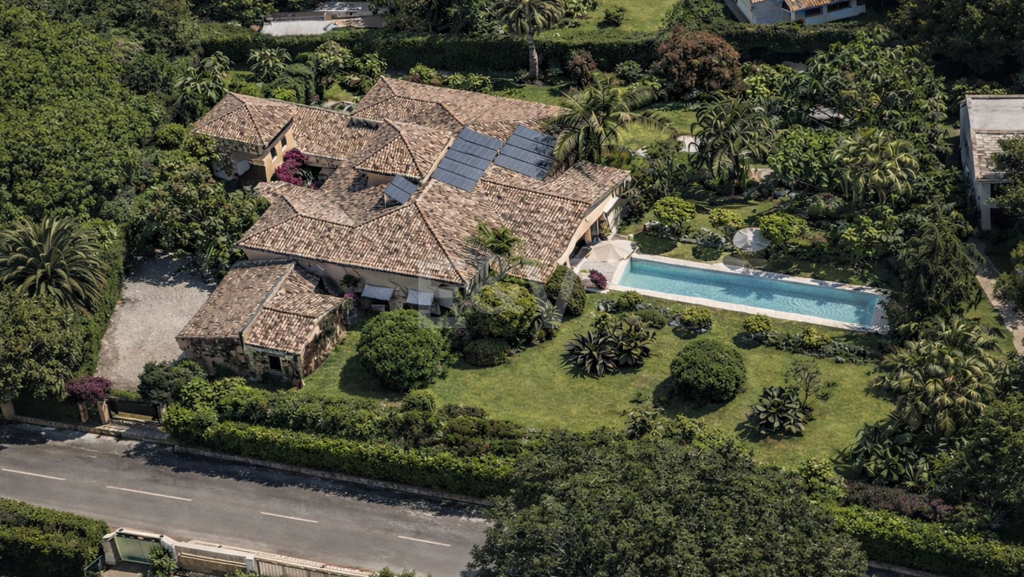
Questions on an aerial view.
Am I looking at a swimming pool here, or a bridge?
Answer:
swimming pool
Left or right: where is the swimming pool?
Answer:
right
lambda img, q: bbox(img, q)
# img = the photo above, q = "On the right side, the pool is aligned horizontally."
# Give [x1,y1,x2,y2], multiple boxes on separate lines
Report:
[606,250,894,335]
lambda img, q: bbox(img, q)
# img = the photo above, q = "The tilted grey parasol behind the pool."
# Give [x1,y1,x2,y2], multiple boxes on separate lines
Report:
[732,228,769,265]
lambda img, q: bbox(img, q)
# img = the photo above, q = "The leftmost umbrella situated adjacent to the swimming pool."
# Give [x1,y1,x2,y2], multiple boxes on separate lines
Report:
[586,235,637,279]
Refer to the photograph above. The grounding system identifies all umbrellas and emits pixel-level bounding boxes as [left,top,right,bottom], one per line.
[586,235,637,279]
[732,228,769,265]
